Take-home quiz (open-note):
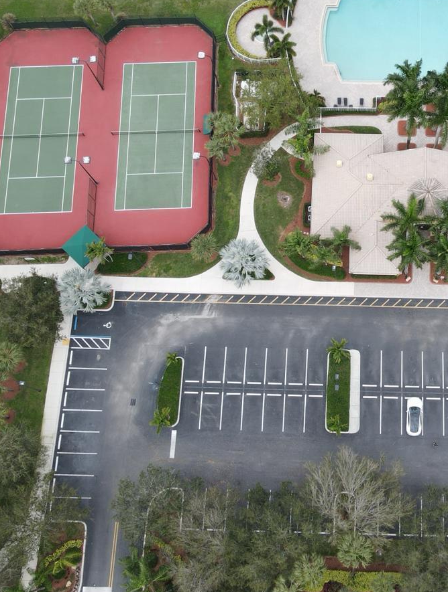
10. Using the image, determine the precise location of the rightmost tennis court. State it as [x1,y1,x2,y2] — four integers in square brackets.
[94,26,215,249]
